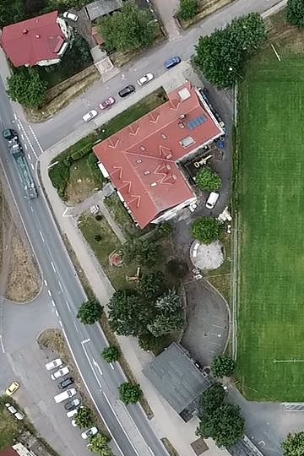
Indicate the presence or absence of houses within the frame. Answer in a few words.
Yes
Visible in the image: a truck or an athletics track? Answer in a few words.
truck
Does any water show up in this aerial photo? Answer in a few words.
No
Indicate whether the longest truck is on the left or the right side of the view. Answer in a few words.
left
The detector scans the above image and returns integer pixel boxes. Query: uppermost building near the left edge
[1,11,76,68]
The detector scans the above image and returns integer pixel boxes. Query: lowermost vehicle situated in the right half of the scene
[206,191,220,209]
